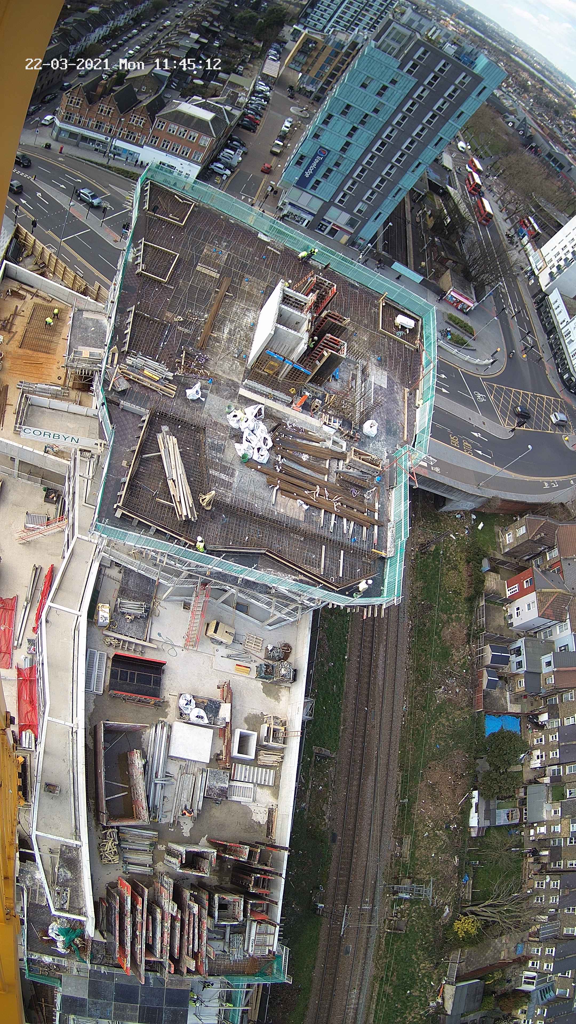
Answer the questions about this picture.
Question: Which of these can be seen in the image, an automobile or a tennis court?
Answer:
automobile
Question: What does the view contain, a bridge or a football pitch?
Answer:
bridge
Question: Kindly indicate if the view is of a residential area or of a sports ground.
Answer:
residential area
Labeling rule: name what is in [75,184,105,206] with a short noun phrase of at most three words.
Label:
car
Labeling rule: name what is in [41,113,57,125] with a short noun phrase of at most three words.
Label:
vehicle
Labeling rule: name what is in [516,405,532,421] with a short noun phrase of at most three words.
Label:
car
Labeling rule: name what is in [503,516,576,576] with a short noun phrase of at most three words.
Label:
house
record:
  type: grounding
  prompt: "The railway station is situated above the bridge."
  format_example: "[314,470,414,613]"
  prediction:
[370,166,461,288]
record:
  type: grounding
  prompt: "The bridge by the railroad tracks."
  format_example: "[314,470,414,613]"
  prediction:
[402,472,491,523]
